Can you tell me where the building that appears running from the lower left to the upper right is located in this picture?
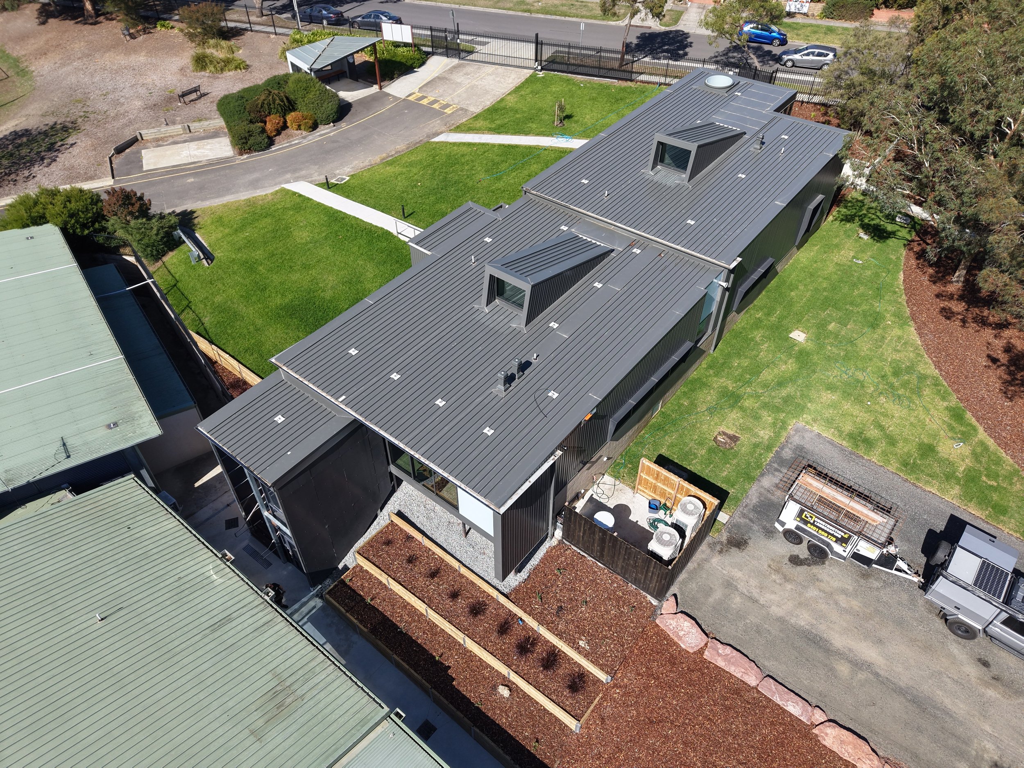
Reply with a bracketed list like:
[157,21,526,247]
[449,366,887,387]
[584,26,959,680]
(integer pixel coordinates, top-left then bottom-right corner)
[191,65,854,589]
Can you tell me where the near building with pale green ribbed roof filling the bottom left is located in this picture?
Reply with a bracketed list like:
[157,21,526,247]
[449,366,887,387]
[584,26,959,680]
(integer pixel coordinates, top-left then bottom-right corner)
[0,473,452,768]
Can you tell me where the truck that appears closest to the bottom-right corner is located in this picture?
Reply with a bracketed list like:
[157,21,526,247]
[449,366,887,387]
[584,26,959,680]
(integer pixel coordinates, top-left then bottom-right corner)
[918,525,1024,669]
